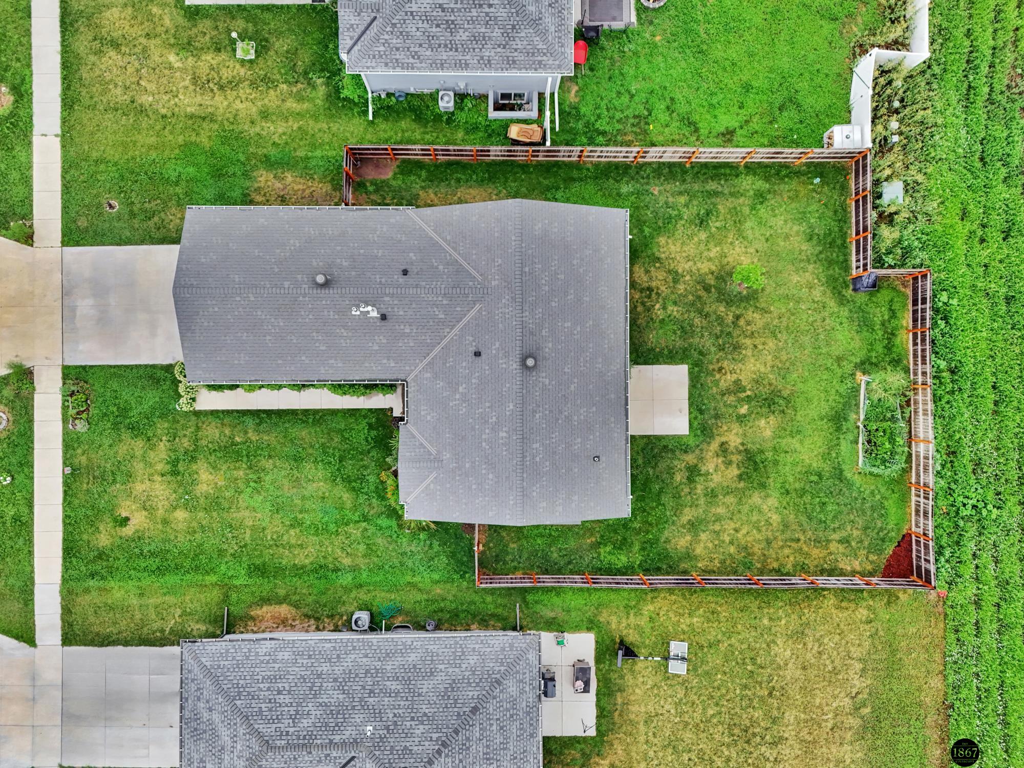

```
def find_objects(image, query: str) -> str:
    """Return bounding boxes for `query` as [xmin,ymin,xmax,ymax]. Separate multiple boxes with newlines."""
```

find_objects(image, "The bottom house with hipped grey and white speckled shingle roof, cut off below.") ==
[177,607,543,768]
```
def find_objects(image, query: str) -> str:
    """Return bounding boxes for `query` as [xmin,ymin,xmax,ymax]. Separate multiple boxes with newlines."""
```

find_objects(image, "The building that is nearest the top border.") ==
[336,0,575,130]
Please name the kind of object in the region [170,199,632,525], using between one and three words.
house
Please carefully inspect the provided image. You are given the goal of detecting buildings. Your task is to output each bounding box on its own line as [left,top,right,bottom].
[177,607,543,768]
[170,199,632,525]
[336,0,575,130]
